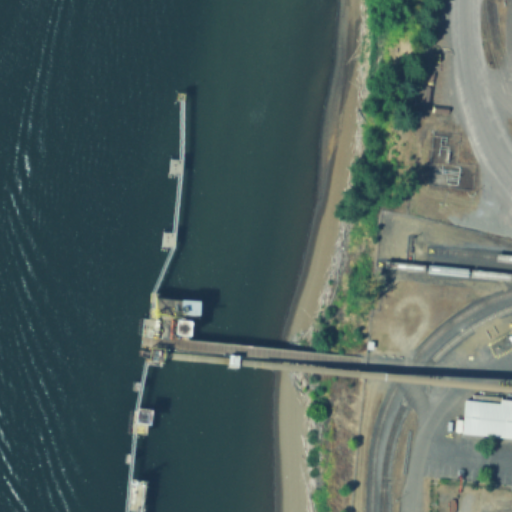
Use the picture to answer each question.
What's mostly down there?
water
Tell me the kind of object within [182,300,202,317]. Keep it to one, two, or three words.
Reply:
house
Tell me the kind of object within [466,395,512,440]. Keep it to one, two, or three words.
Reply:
building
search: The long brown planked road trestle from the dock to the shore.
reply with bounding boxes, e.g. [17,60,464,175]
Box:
[171,339,374,368]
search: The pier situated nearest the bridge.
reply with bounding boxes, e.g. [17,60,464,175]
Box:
[141,298,184,350]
